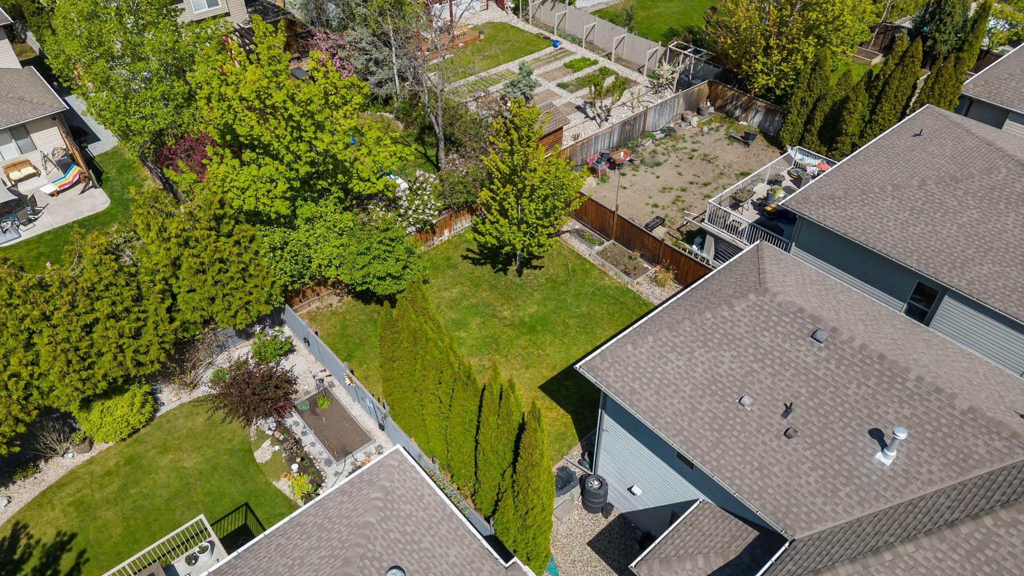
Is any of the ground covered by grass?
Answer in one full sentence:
Yes, grass shows up in the scene.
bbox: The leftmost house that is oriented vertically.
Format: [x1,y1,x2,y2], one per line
[0,7,78,183]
